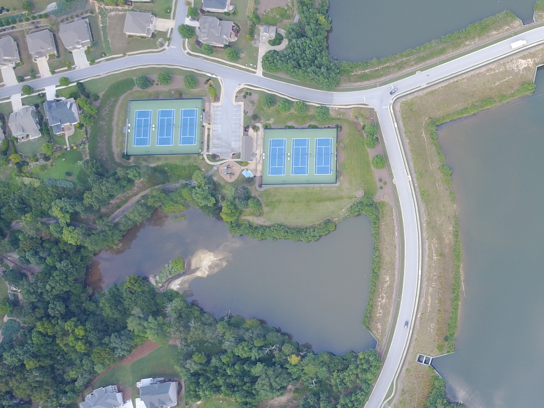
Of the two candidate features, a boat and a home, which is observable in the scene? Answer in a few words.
home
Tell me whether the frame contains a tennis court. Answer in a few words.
Yes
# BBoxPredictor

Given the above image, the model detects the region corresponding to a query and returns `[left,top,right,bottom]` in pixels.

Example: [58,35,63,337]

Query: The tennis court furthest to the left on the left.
[133,110,152,146]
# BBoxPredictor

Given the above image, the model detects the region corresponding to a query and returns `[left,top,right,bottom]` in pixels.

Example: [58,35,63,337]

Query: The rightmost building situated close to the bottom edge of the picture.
[135,377,181,408]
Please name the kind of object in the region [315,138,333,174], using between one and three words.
tennis court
